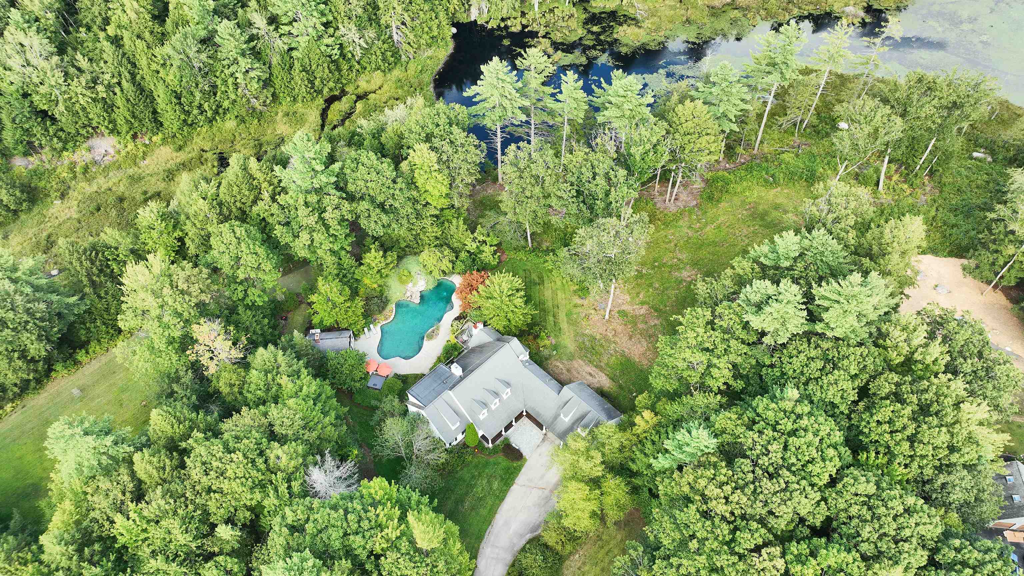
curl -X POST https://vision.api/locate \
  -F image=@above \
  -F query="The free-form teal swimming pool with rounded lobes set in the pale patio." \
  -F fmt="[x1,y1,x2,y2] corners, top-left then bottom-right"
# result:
[376,277,457,361]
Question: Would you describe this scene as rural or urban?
rural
